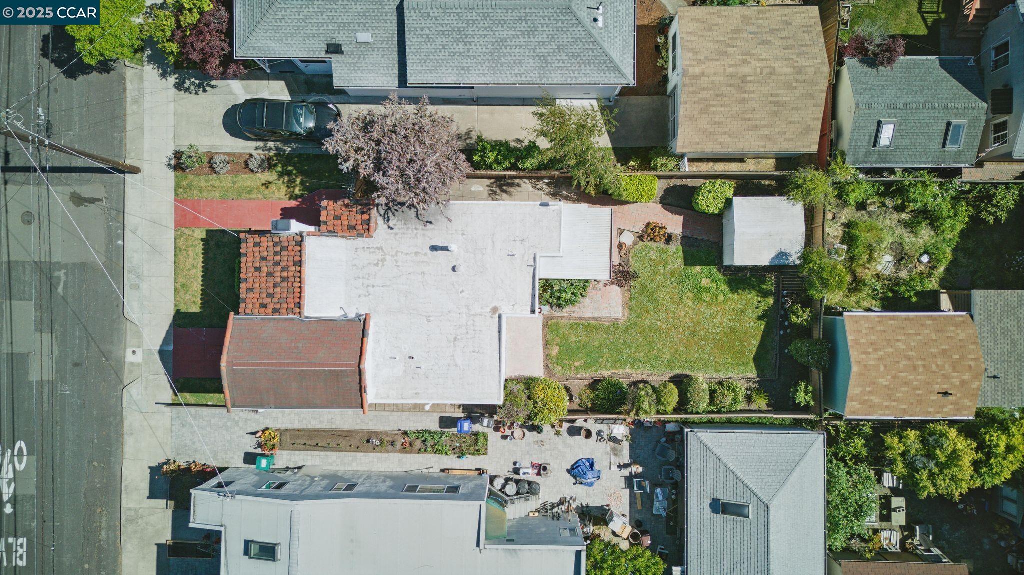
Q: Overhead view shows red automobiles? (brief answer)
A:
No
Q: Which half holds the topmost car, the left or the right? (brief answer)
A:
left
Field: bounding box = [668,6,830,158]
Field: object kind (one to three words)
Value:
building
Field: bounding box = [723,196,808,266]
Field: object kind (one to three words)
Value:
shed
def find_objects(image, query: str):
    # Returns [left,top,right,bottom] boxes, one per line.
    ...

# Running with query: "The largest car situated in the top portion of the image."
[239,97,342,141]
